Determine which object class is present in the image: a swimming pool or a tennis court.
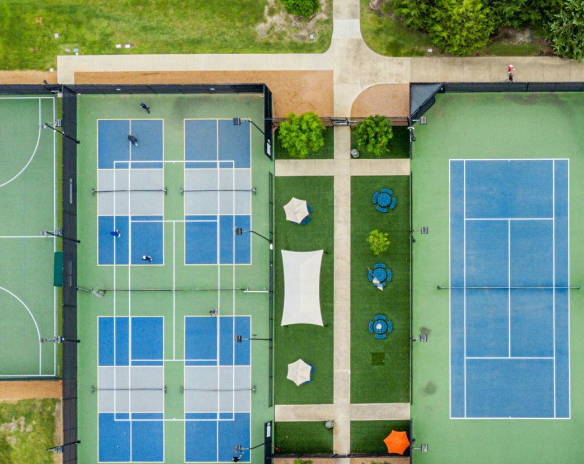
tennis court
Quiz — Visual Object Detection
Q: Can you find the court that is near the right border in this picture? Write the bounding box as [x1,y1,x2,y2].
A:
[409,91,584,464]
